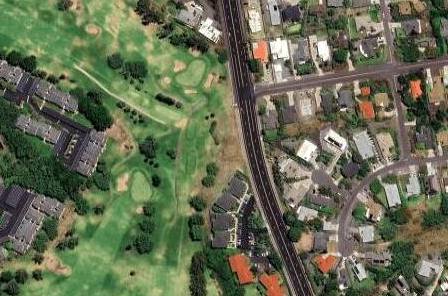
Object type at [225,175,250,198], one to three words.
building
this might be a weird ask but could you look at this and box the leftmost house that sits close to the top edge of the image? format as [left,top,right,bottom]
[178,1,203,25]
